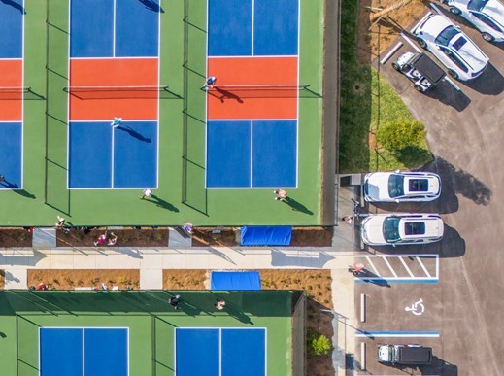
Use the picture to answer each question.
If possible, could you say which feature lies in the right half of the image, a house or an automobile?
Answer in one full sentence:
The one visible in the right half of the image is an automobile.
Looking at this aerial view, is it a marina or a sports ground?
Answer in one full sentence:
It's a sports ground.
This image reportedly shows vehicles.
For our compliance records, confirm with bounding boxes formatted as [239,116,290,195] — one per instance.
[361,210,444,248]
[393,48,444,91]
[375,341,431,367]
[363,167,441,204]
[448,0,504,40]
[417,15,486,79]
